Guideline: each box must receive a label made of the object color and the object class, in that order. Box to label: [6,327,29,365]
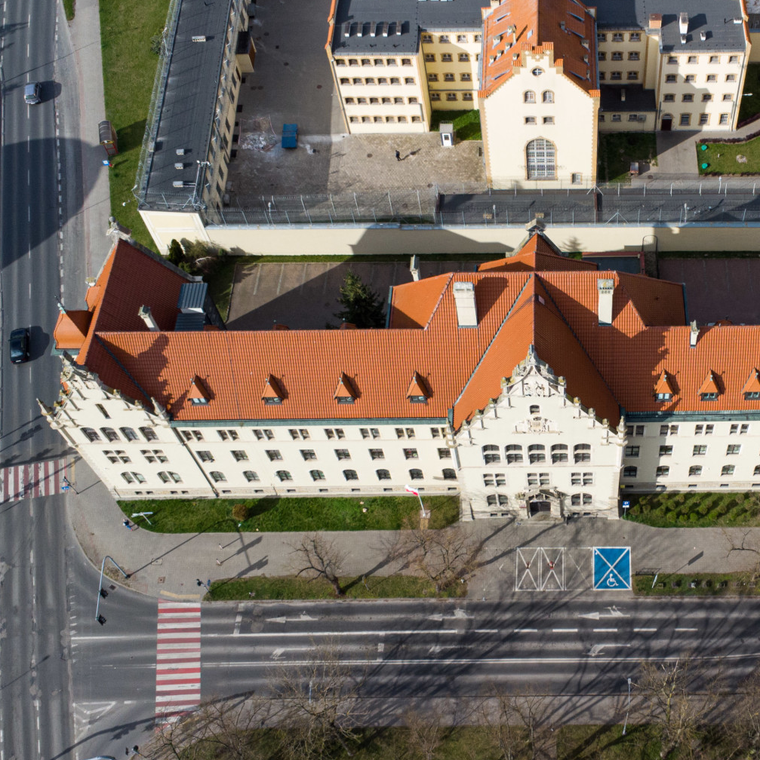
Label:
black car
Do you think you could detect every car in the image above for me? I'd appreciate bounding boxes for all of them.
[6,327,29,365]
[20,78,40,102]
